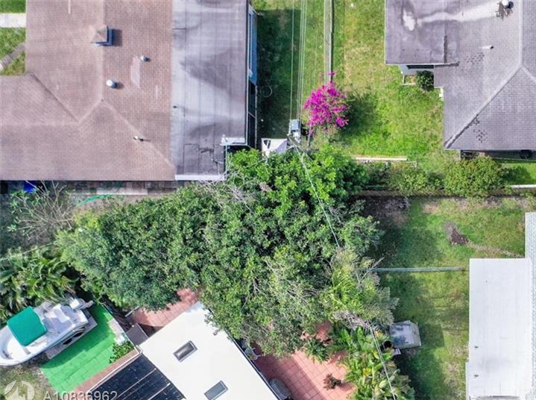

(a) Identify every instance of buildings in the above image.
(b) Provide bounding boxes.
[390,321,425,349]
[385,0,536,160]
[0,0,266,181]
[465,212,536,400]
[66,302,281,400]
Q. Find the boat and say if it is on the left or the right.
left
